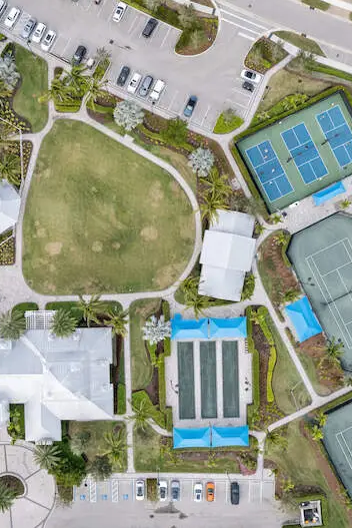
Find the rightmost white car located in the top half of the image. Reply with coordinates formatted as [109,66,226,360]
[240,69,261,81]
